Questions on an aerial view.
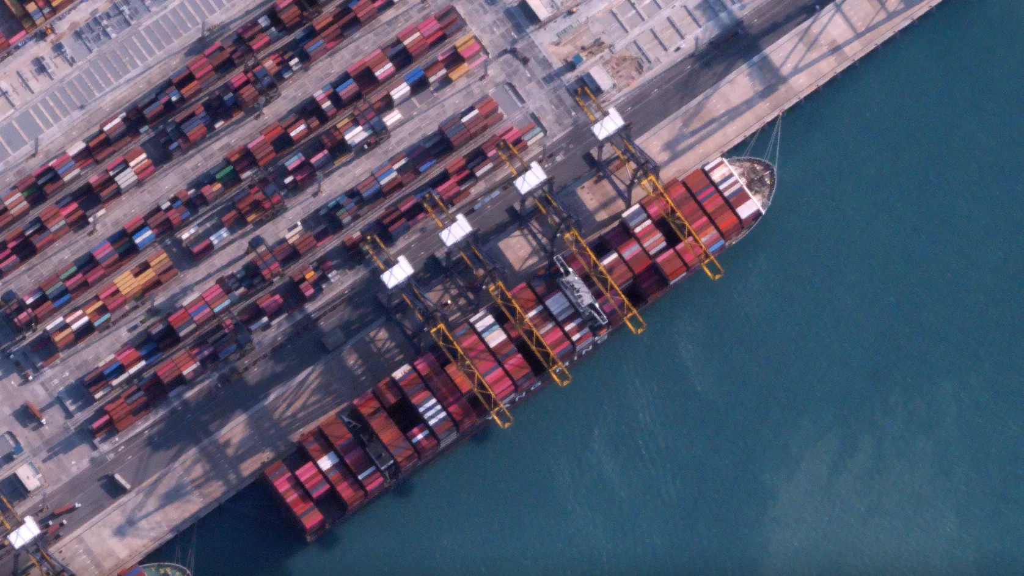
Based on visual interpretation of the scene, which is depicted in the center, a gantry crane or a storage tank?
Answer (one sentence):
The feature located in the center is a gantry crane.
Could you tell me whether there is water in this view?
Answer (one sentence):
Yes, water shows up in the scene.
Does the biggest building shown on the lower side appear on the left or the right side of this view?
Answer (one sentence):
The biggest building shown on the lower side appears in the left half of the scene.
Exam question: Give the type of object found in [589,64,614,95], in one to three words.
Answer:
building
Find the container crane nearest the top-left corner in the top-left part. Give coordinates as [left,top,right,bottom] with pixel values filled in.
[239,49,279,104]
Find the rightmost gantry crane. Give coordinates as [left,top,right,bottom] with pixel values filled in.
[576,85,722,280]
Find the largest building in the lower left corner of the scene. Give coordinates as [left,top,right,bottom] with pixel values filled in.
[15,462,40,496]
